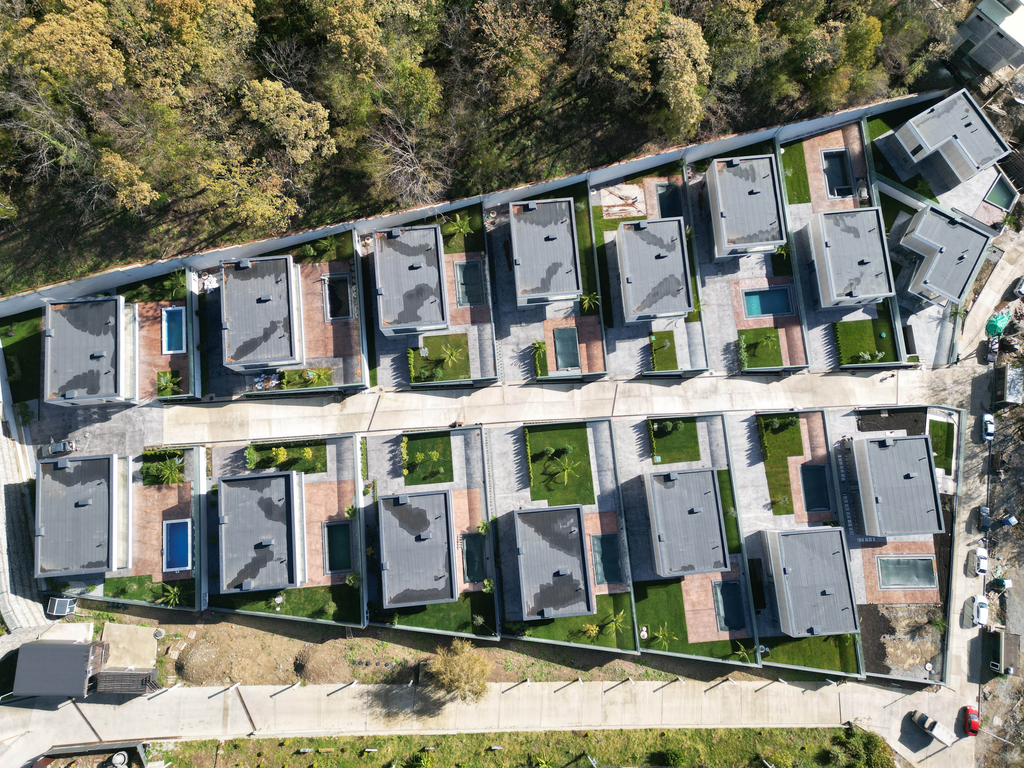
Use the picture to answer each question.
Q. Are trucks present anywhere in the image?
Yes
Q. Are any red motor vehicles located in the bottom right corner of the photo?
Yes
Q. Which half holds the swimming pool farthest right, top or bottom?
top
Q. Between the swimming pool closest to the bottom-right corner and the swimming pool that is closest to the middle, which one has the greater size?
the swimming pool closest to the bottom-right corner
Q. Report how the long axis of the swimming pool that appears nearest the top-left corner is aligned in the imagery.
up and down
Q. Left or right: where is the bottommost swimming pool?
right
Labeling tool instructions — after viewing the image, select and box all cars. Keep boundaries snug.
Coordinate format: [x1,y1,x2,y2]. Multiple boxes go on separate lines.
[983,336,1000,366]
[1008,271,1024,303]
[975,505,993,532]
[972,547,991,575]
[962,704,981,737]
[970,594,990,625]
[978,413,995,441]
[43,441,78,457]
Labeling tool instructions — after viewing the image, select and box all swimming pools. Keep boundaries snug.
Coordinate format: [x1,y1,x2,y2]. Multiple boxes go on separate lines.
[799,464,833,513]
[656,180,684,219]
[712,579,746,632]
[161,306,186,354]
[740,284,797,318]
[454,259,486,308]
[321,520,355,576]
[321,271,354,322]
[984,173,1017,212]
[591,533,624,586]
[875,554,939,590]
[819,147,857,201]
[554,327,581,368]
[461,533,487,583]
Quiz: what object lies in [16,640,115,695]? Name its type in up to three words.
shed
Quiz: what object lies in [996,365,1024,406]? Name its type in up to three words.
shed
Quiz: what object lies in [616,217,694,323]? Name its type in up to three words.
house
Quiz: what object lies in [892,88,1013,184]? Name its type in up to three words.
house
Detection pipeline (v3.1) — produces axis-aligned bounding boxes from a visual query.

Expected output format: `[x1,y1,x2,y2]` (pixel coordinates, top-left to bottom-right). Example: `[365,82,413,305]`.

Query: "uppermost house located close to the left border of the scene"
[43,295,140,407]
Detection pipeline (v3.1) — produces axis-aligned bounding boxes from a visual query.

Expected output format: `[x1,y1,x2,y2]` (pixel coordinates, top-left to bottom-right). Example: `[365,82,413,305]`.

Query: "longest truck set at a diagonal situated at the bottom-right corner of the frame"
[911,711,966,754]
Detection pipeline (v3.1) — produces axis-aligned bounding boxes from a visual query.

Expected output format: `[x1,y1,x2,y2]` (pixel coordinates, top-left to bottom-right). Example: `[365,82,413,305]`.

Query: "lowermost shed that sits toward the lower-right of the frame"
[992,629,1023,676]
